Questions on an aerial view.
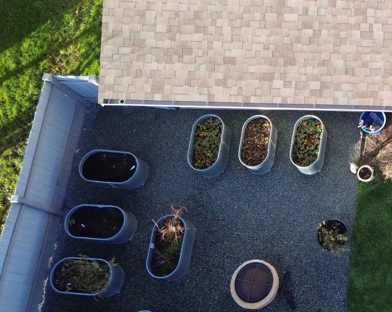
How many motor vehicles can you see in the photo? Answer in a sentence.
No motor vehicles are visible.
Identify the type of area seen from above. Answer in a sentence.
The area seen from above is an industrial area.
